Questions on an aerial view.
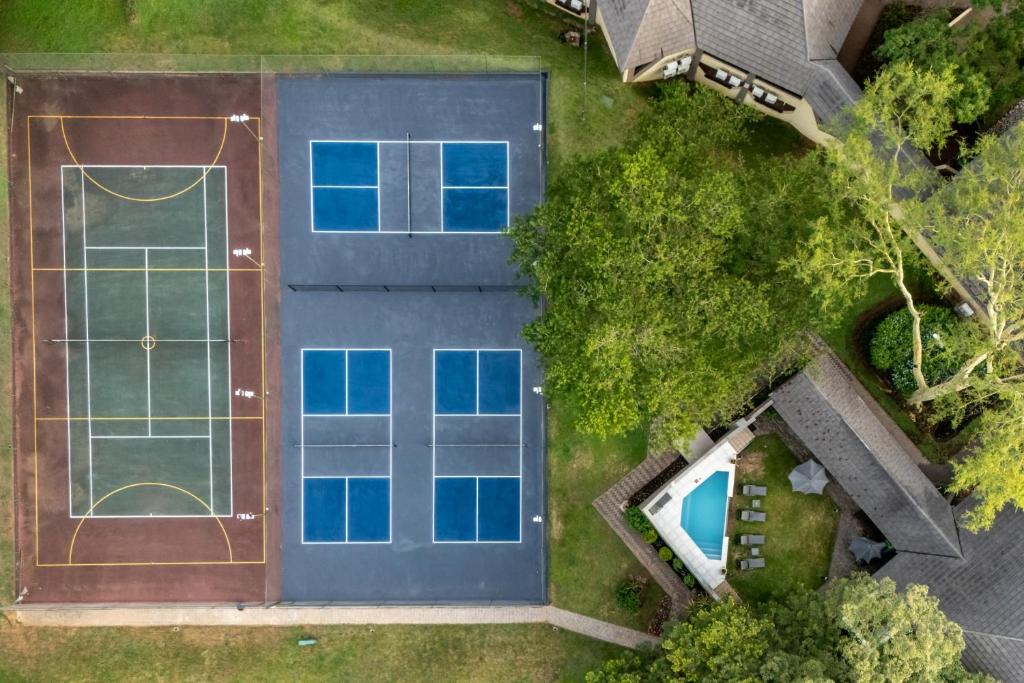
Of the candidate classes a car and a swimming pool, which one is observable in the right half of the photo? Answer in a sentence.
Visible in the right half of the photo is a swimming pool.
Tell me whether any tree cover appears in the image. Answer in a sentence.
Yes, tree cover shows up in the scene.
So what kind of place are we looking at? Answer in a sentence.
The area seen from above is a sports ground.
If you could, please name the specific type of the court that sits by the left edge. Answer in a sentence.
The court that sits by the left edge in the image is a tennis court.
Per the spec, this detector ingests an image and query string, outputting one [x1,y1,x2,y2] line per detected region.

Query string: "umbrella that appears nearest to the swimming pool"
[787,457,827,498]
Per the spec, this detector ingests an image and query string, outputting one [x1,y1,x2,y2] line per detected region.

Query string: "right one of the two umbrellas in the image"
[844,532,885,567]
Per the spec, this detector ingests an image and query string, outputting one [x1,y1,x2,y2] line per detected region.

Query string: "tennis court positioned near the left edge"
[10,73,281,605]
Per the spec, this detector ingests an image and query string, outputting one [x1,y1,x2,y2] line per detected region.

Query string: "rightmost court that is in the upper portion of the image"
[310,140,509,233]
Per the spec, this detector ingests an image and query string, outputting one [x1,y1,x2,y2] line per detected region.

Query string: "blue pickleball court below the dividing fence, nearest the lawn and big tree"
[433,349,522,543]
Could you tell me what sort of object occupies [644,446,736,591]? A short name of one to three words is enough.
swimming pool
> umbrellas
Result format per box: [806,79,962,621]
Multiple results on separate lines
[844,532,885,567]
[787,457,827,498]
